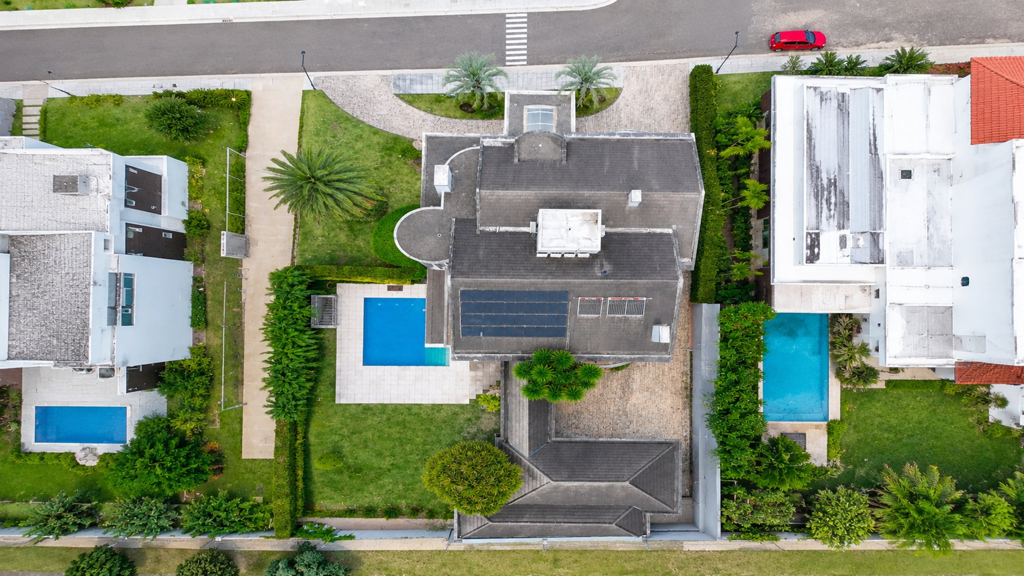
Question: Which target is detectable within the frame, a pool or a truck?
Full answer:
I can see a pool in this picture.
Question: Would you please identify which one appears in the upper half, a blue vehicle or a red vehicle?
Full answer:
The feature located in the upper half is a red vehicle.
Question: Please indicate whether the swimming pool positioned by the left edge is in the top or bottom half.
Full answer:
It is in the bottom half that the swimming pool positioned by the left edge appears.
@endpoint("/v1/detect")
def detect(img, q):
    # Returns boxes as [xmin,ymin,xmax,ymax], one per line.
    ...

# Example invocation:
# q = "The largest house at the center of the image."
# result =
[394,91,707,368]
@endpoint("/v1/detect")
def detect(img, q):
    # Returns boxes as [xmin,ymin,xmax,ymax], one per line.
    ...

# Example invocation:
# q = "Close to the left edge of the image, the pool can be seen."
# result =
[31,404,129,447]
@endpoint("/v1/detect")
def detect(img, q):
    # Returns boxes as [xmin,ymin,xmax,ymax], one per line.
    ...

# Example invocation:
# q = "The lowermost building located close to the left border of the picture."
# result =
[0,136,193,394]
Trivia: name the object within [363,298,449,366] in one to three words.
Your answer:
swimming pool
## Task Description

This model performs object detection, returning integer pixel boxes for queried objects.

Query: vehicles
[772,25,830,54]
